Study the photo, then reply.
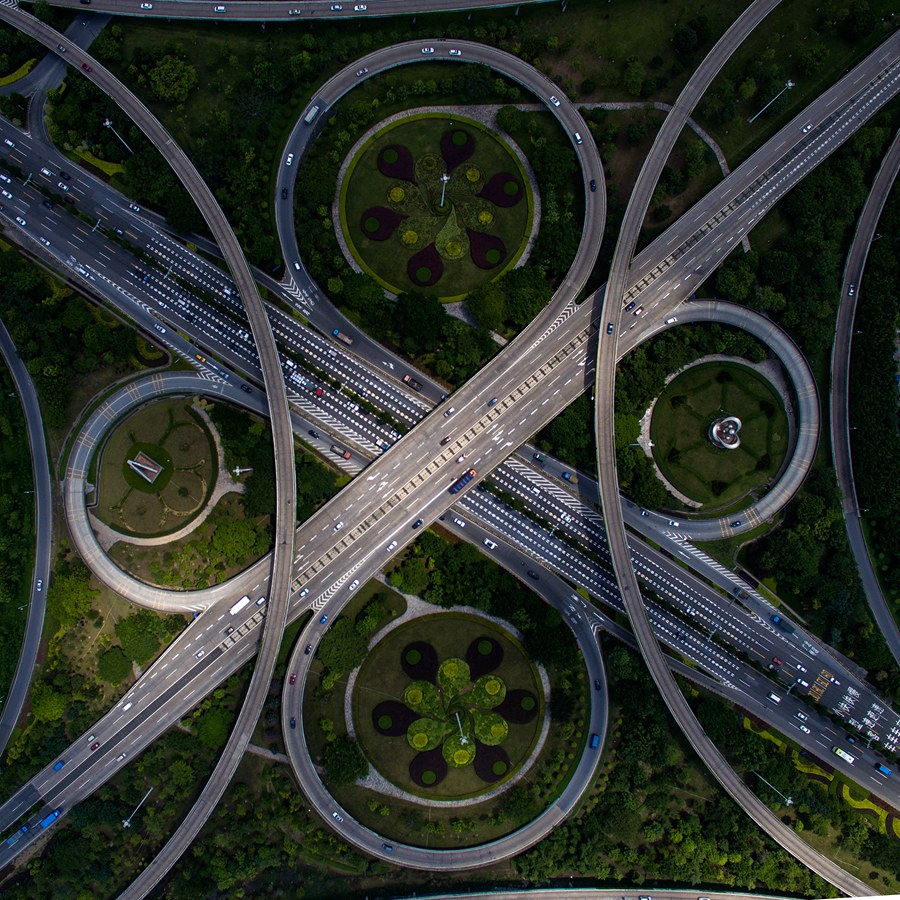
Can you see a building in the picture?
No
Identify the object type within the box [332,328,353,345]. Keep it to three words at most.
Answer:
vehicle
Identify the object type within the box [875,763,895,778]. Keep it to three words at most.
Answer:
vehicle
